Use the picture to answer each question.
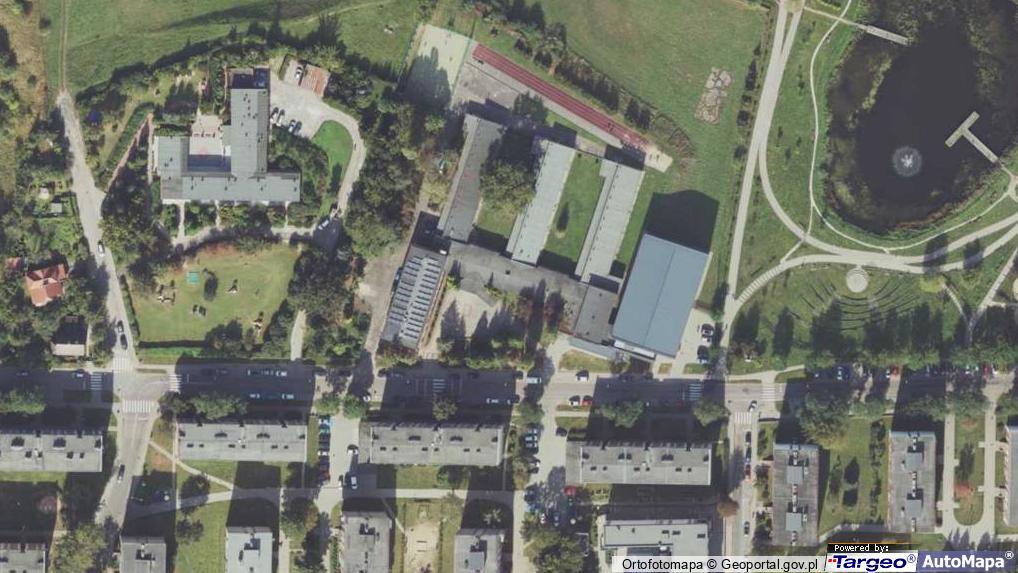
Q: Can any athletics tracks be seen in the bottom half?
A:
No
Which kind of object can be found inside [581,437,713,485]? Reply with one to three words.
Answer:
building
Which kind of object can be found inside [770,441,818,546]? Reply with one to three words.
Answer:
building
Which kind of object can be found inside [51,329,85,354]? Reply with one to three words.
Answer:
house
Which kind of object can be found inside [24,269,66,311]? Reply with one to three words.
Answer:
house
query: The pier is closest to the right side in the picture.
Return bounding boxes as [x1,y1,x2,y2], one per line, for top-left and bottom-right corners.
[945,111,998,163]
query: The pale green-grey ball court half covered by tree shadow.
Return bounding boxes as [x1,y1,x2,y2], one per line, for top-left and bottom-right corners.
[406,25,469,113]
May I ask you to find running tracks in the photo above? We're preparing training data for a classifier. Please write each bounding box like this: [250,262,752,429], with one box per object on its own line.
[473,42,647,156]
